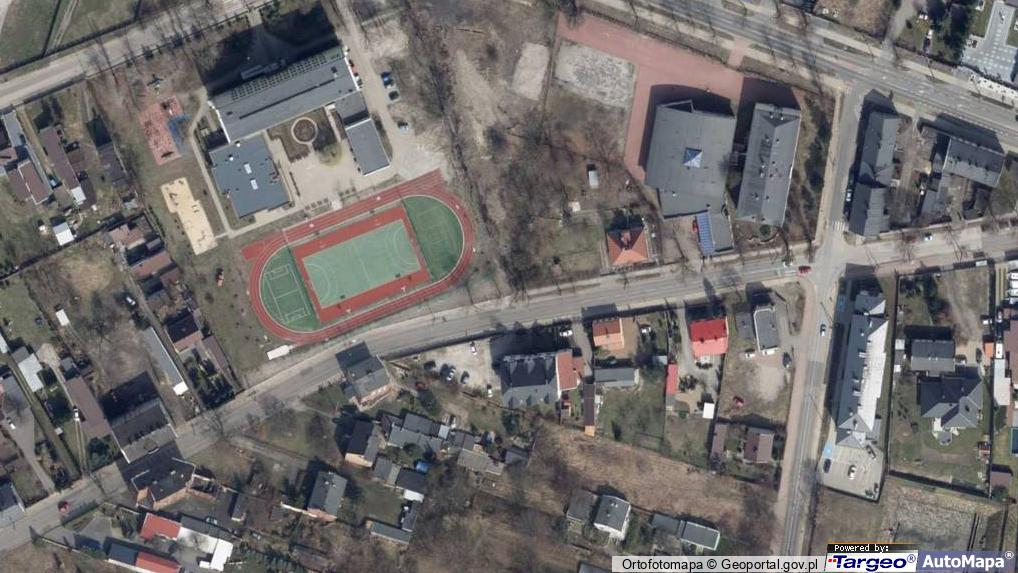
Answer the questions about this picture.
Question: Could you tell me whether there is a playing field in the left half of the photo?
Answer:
Yes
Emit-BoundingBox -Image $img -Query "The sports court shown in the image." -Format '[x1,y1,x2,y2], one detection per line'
[292,207,429,321]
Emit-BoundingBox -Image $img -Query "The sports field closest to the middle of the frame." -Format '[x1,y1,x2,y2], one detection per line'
[402,196,461,284]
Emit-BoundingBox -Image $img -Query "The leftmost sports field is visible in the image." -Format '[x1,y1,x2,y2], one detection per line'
[263,242,320,328]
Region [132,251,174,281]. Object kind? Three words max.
house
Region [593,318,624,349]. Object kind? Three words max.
house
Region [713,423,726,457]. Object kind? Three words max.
shed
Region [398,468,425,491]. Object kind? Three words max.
building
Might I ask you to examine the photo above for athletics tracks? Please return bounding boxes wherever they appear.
[242,168,475,341]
